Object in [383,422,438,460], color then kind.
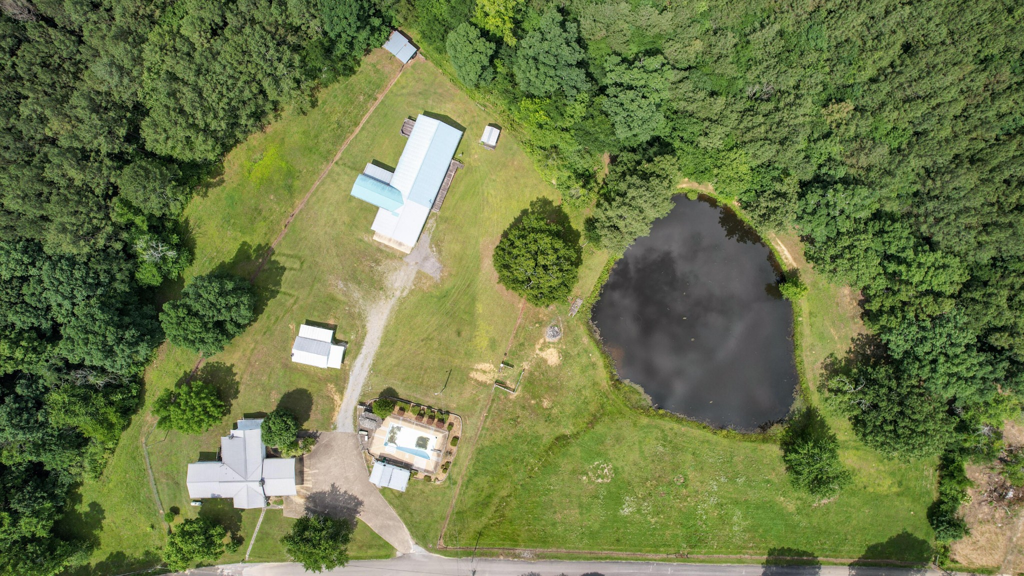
white swimming pool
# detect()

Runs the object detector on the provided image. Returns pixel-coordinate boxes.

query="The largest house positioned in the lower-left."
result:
[186,417,301,509]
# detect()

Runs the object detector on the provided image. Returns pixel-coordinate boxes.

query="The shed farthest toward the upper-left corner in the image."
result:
[383,31,417,66]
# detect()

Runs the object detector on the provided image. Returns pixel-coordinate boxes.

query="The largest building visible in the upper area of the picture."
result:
[352,114,462,246]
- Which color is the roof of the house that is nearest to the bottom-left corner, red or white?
white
